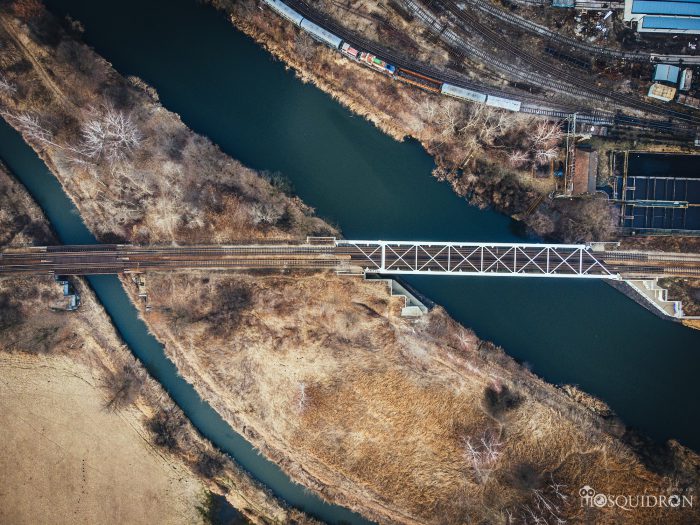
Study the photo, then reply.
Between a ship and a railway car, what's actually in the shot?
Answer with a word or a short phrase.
railway car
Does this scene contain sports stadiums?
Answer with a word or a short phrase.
No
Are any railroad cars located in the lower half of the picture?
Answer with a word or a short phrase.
No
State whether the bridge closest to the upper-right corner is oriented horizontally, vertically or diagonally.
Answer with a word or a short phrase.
horizontally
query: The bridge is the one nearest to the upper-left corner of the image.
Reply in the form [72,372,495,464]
[33,245,144,275]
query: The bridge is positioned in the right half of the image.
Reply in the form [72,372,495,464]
[334,241,617,278]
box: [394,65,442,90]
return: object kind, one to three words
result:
rail car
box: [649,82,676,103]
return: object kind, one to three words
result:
shed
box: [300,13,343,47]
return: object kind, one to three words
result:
rail car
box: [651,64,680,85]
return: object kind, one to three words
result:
shed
